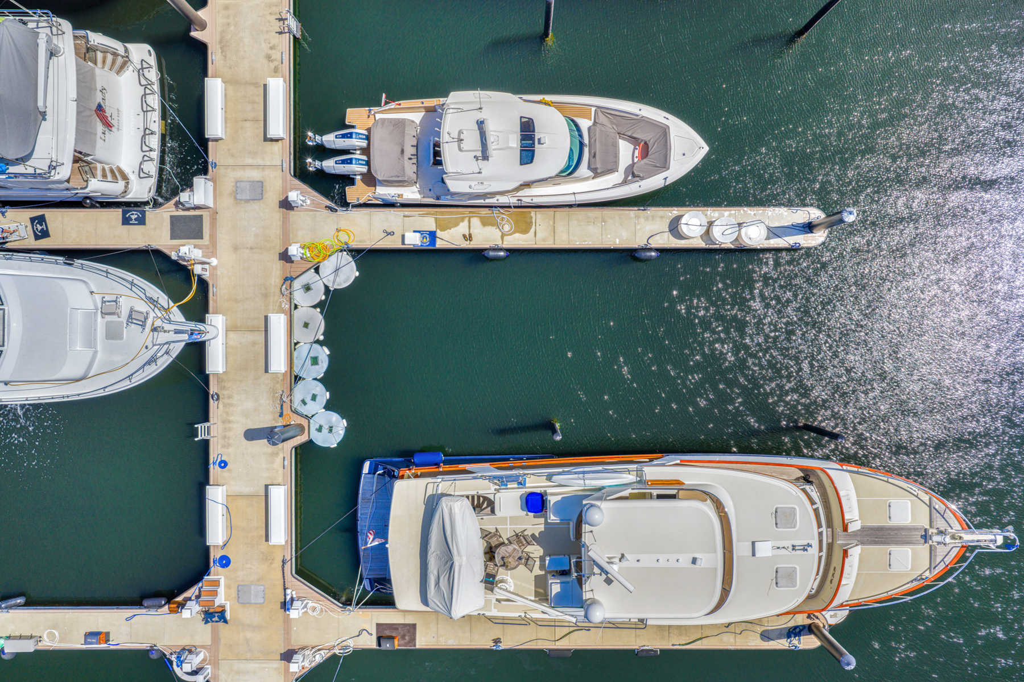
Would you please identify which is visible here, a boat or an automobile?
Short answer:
boat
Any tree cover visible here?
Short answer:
No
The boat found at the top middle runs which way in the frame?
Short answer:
horizontally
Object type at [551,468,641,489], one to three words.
boat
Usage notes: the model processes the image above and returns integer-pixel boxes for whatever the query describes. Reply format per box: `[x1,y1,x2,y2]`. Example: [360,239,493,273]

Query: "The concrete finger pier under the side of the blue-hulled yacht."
[292,603,829,650]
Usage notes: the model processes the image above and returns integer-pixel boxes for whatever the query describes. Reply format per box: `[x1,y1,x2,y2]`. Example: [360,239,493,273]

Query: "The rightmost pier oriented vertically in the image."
[156,0,345,682]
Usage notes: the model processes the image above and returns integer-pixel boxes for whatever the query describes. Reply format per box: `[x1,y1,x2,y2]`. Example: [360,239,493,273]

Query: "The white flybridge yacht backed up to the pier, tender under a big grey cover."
[0,0,167,210]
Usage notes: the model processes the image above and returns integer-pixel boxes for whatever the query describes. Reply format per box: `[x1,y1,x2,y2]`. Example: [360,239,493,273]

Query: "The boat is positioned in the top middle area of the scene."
[305,86,709,209]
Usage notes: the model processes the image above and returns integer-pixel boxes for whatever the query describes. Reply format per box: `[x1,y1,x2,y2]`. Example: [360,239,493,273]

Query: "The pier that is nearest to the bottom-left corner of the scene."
[0,603,211,650]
